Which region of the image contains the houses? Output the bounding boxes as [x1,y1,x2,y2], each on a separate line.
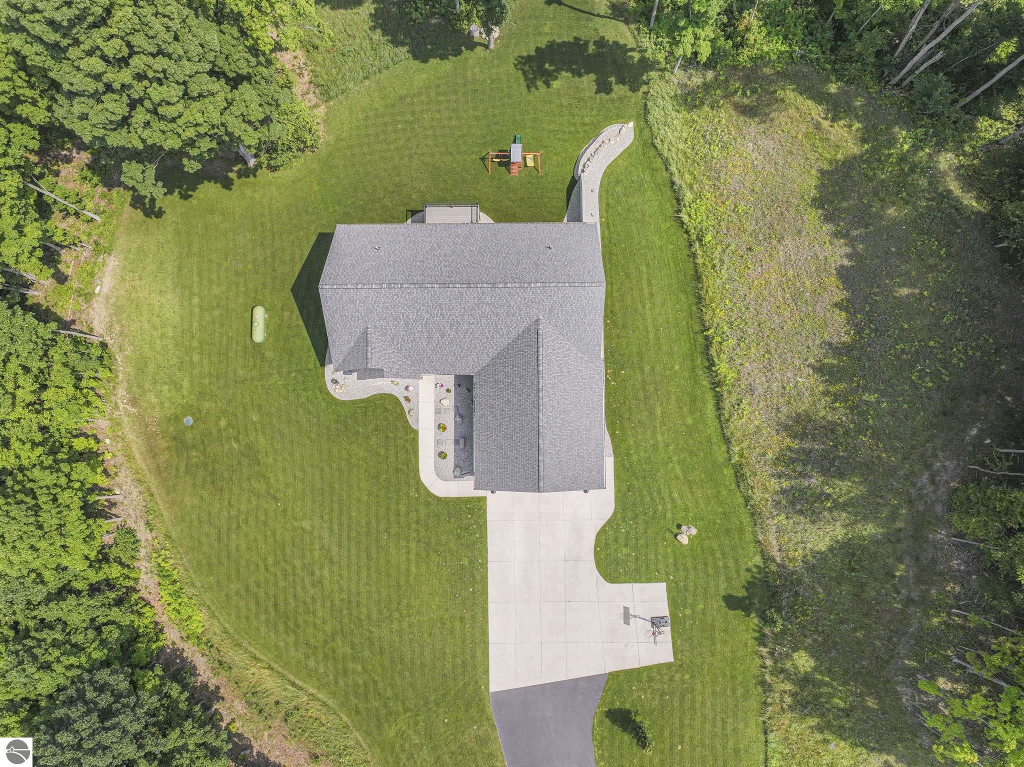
[319,221,609,494]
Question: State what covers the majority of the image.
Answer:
grass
